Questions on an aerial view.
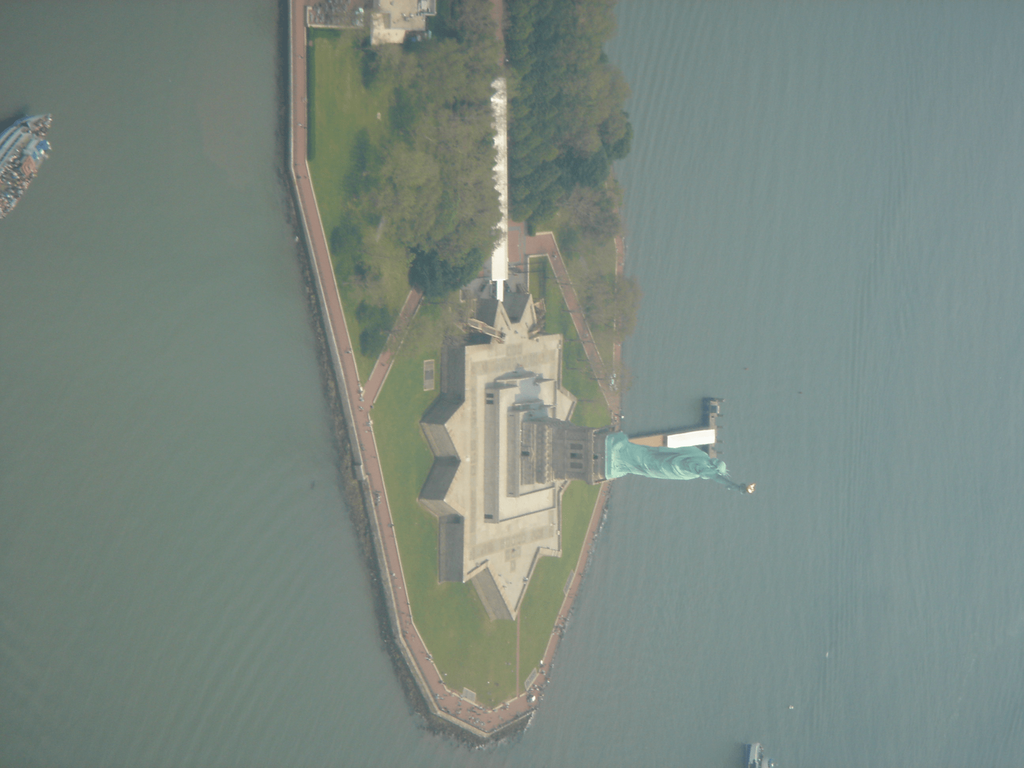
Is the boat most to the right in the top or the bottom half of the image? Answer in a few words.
bottom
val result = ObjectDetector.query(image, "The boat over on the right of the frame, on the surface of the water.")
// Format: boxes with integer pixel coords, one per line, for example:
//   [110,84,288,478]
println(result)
[746,739,768,768]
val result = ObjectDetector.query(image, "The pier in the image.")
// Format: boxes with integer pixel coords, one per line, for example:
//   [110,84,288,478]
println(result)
[662,397,726,460]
